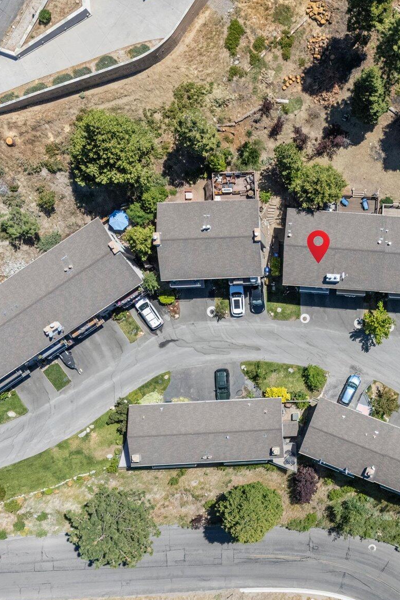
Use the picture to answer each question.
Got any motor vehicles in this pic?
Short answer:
Yes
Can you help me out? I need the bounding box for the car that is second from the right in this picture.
[249,285,265,314]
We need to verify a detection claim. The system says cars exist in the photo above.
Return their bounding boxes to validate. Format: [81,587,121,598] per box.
[213,368,230,400]
[249,285,265,314]
[229,285,246,318]
[339,373,361,405]
[136,298,163,332]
